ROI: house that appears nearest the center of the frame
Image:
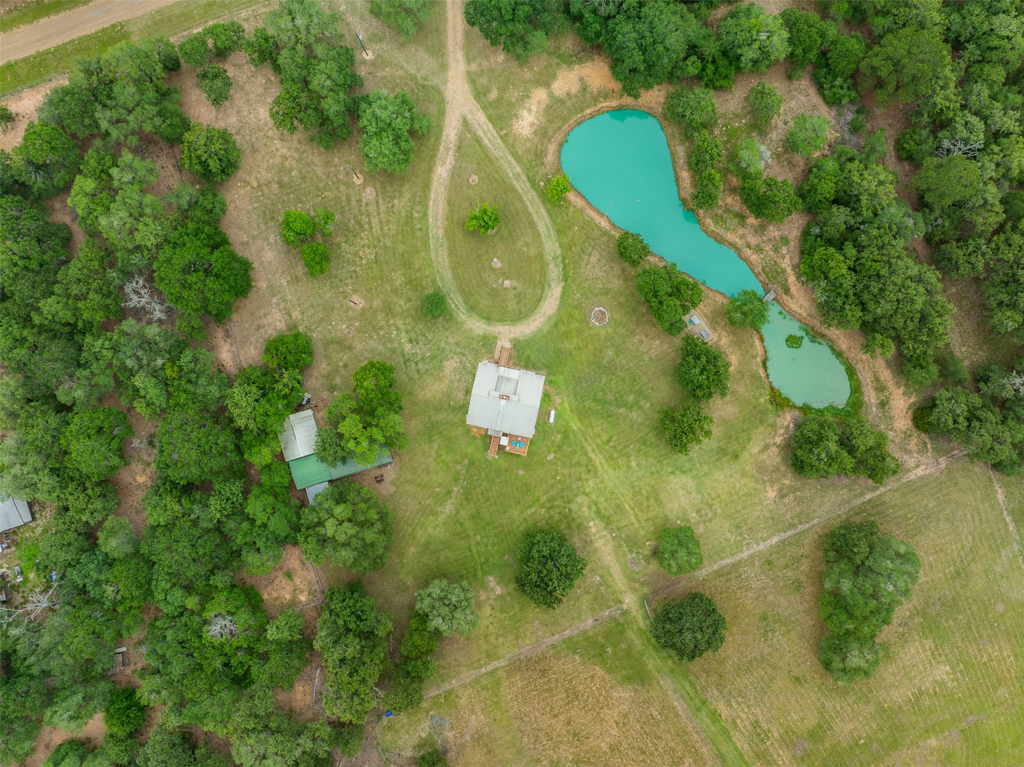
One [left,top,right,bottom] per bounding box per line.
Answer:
[467,345,545,456]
